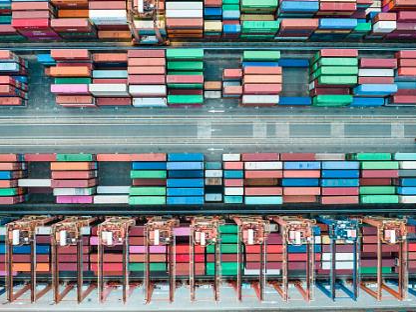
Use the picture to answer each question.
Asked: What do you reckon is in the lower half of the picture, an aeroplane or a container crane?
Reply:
container crane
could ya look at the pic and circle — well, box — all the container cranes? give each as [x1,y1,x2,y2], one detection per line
[145,213,186,304]
[7,213,65,304]
[226,213,273,304]
[127,0,171,46]
[186,213,226,304]
[267,213,319,304]
[53,213,106,304]
[310,213,366,307]
[348,213,412,304]
[99,213,145,304]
